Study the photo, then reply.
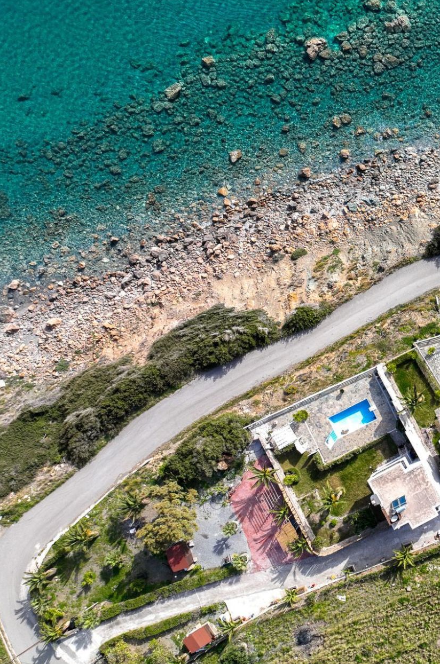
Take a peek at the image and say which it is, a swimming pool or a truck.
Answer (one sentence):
This aerial view contains a swimming pool.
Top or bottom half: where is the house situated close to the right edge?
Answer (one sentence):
You can find the house situated close to the right edge in the bottom half.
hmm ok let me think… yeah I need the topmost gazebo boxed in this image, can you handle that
[270,422,301,449]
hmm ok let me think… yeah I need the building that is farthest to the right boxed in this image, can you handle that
[368,455,440,531]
